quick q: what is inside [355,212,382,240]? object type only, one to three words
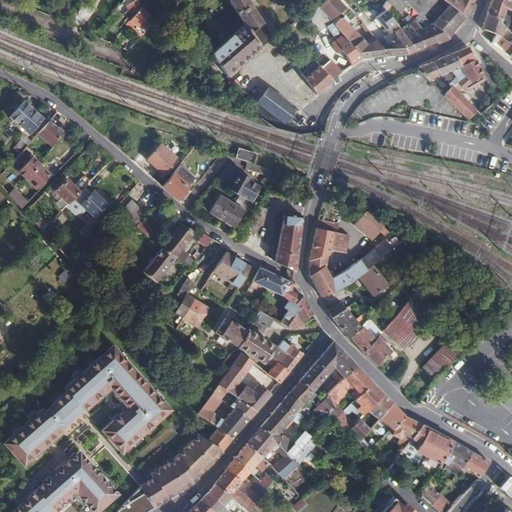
house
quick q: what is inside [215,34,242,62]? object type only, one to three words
building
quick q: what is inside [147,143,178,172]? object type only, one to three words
house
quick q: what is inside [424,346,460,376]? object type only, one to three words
barn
